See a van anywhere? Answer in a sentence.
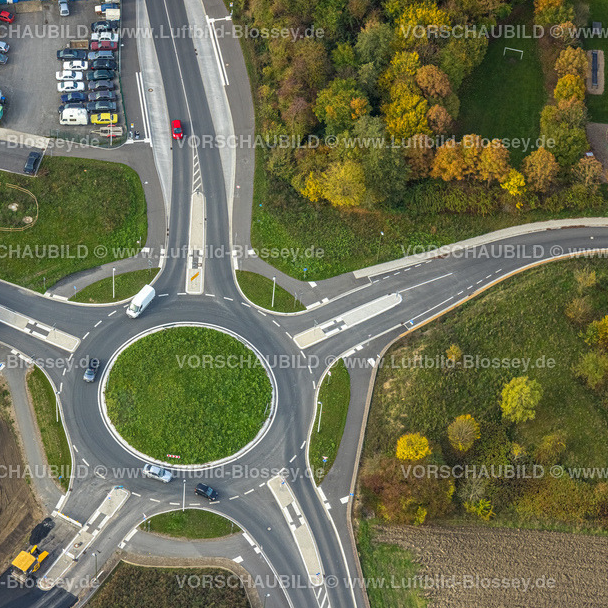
Yes, there is a van in the image.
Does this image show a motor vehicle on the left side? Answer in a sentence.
Yes, looking on the left side, one can make out a motor vehicle.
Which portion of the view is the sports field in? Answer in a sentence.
The sports field sits in the top right section of the image.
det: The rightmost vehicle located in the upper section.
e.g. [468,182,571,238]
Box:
[171,120,183,139]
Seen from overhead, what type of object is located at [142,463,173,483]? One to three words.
car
